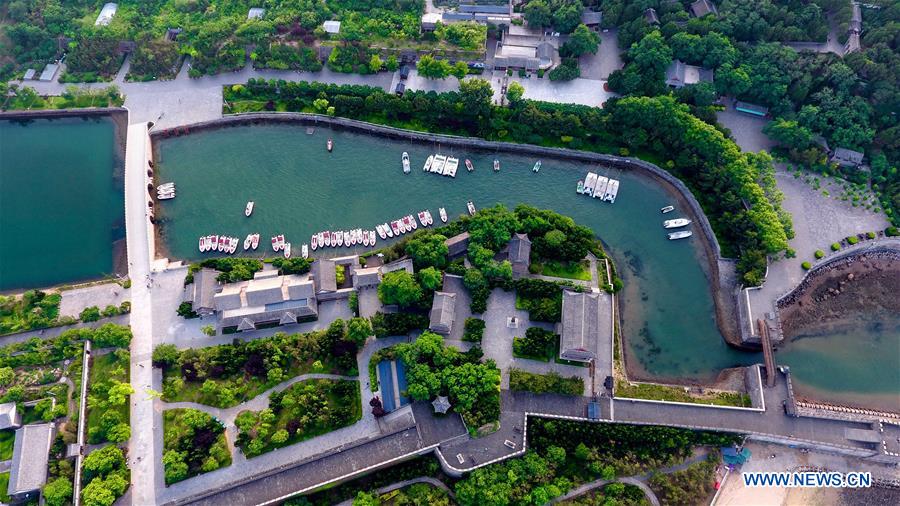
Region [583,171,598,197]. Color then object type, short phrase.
white boat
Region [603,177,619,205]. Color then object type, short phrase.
white boat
